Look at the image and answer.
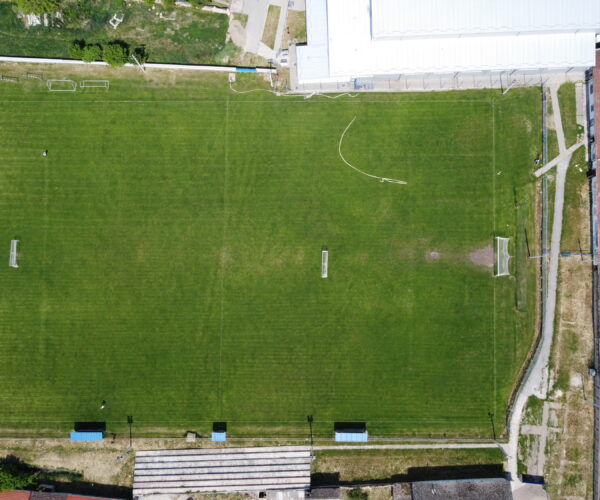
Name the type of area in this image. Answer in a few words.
sports ground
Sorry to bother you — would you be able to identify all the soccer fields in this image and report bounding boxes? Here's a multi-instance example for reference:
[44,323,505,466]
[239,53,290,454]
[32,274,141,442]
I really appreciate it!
[0,91,530,432]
